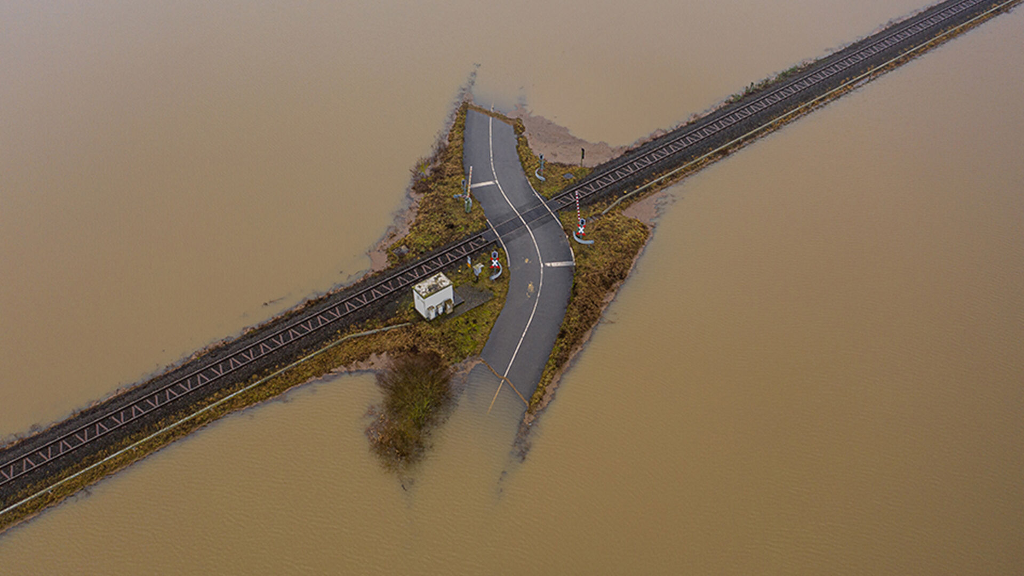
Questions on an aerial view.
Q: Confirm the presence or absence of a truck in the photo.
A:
No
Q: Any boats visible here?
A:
No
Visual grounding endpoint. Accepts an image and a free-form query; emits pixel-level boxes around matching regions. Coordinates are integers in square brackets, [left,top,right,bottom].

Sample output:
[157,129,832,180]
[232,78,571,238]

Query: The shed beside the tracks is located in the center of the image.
[413,270,452,313]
